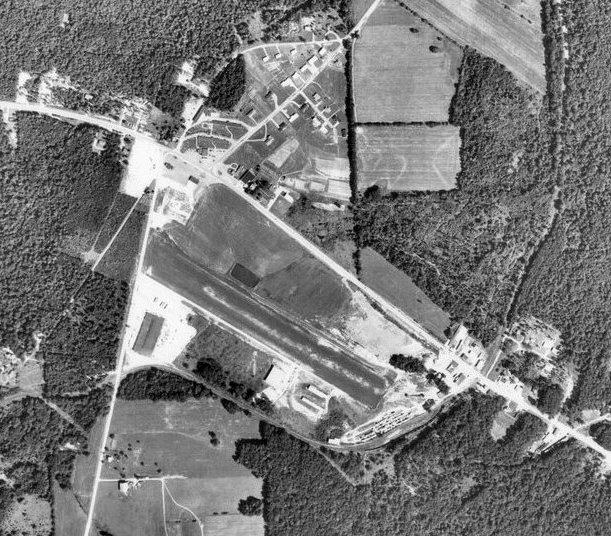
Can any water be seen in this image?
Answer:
No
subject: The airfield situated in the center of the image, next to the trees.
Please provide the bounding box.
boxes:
[144,230,386,406]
